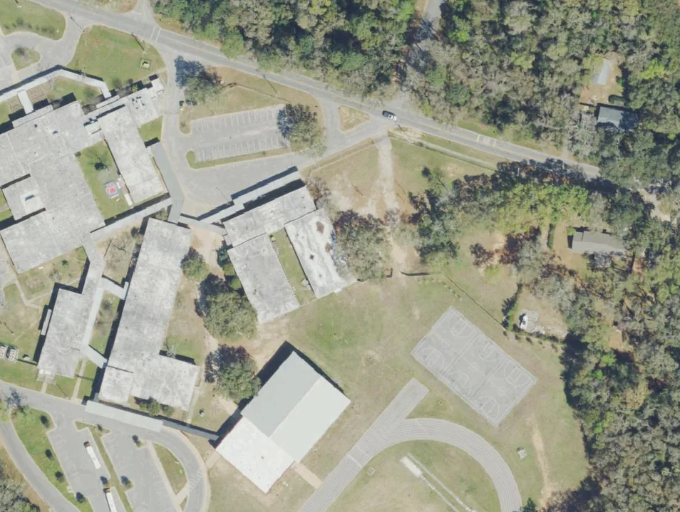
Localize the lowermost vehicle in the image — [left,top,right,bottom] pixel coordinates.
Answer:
[105,486,117,512]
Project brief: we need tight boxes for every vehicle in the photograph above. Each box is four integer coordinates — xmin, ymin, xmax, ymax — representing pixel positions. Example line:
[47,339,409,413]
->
[522,313,528,328]
[86,442,100,468]
[383,112,397,120]
[105,486,117,512]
